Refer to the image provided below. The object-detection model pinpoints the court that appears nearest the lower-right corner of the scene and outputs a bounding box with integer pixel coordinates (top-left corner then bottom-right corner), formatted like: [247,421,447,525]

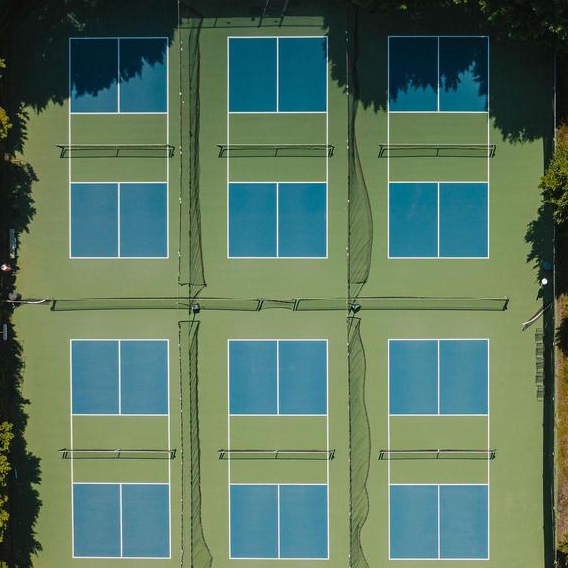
[388,339,490,560]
